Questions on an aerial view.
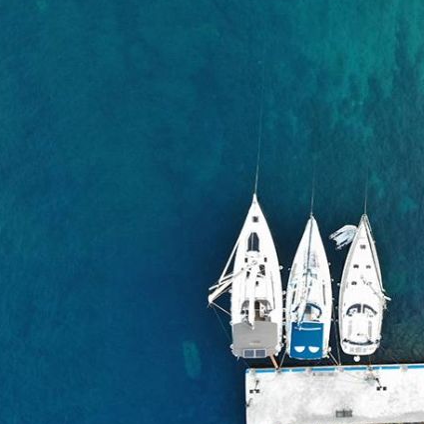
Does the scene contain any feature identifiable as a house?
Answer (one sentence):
No, this view has no house in it.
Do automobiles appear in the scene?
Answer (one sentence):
No, there appears to be no automobile in this shot.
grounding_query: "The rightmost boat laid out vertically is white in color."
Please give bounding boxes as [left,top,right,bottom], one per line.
[339,179,390,370]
